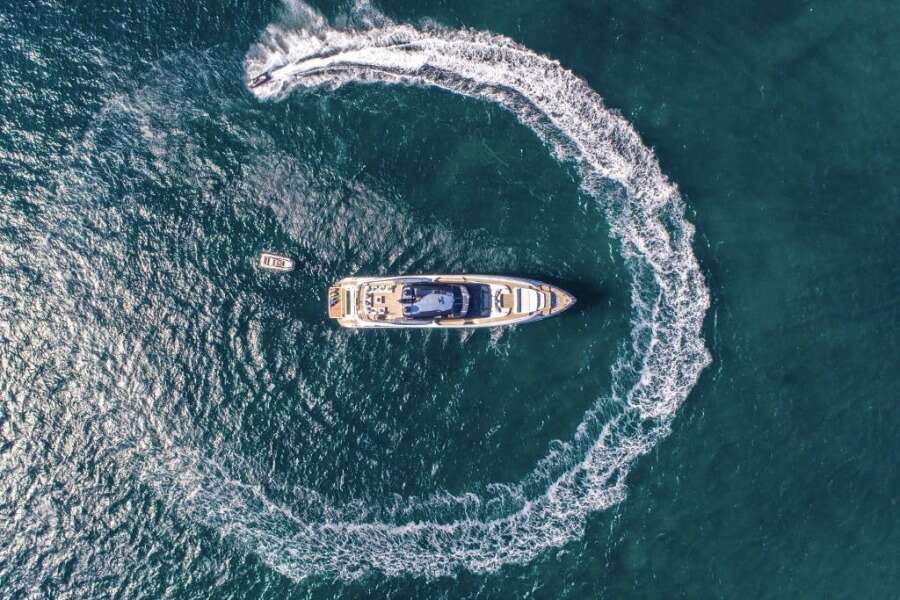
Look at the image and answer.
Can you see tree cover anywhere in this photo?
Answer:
No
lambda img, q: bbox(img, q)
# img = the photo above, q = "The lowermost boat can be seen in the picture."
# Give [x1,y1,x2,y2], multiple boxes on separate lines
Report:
[329,275,577,328]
